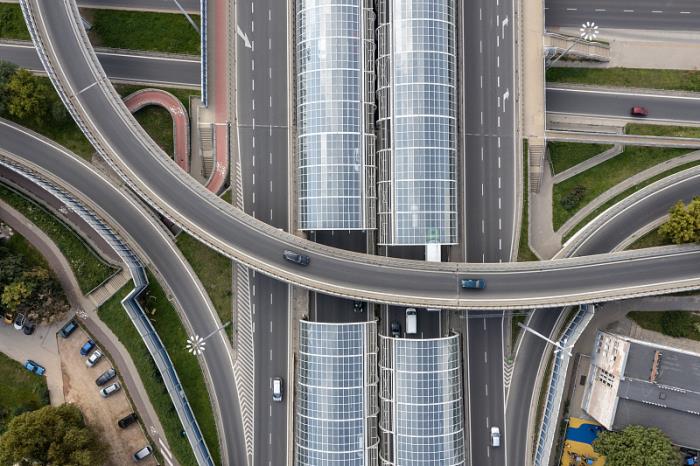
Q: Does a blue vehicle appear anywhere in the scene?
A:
Yes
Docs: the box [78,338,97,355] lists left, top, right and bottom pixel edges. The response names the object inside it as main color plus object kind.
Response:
blue car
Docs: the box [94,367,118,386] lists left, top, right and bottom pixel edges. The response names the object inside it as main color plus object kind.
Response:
gray car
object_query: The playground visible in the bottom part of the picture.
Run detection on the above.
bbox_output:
[564,418,612,466]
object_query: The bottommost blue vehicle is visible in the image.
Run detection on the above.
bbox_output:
[25,360,46,374]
